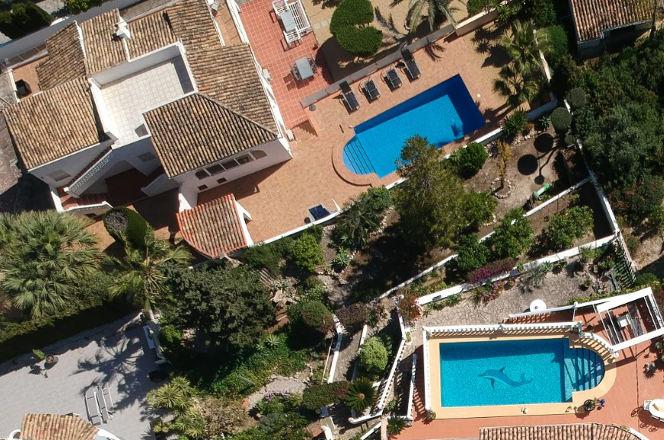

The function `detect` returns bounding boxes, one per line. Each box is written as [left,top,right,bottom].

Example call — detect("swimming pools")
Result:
[430,325,617,418]
[329,65,495,192]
